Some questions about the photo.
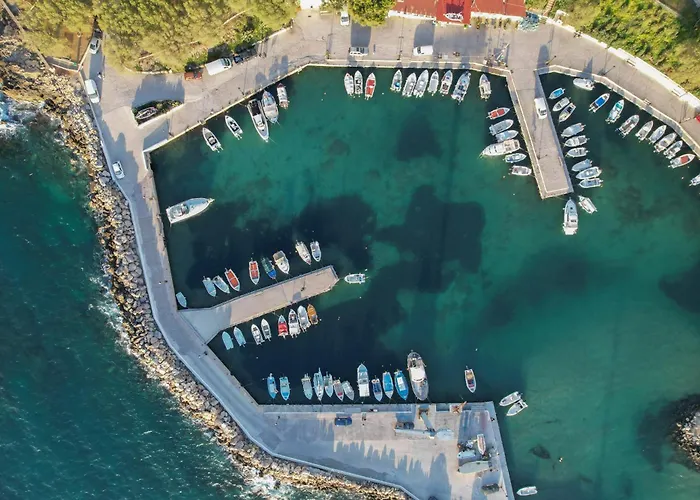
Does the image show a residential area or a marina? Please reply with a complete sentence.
This looks like a marina.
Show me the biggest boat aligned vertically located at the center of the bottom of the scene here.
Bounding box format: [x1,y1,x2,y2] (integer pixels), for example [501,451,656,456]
[405,351,430,404]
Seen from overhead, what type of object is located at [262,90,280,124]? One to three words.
boat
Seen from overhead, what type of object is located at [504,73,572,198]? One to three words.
pier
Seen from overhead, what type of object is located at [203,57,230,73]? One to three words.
vehicle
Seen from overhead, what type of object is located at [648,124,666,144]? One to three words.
boat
